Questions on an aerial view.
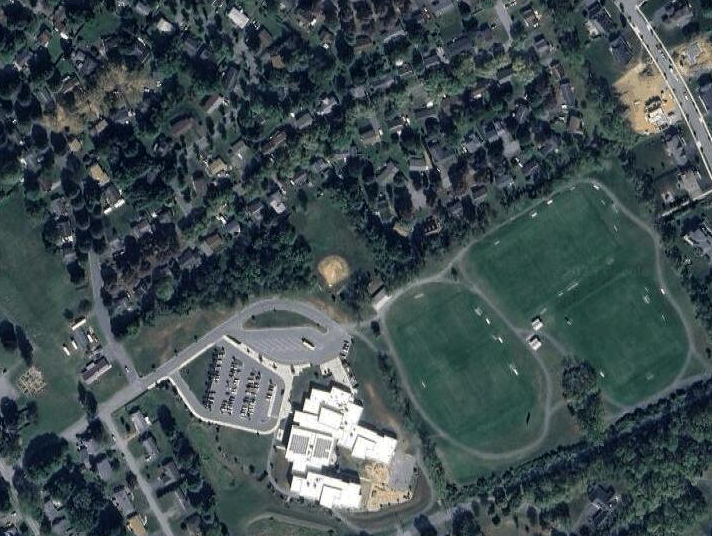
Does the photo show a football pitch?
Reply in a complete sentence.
Yes, a football pitch appears in the view.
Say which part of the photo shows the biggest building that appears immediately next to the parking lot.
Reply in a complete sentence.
The biggest building that appears immediately next to the parking lot appears toward the bottom of the photo.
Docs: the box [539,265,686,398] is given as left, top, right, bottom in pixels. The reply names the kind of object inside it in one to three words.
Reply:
soccer field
